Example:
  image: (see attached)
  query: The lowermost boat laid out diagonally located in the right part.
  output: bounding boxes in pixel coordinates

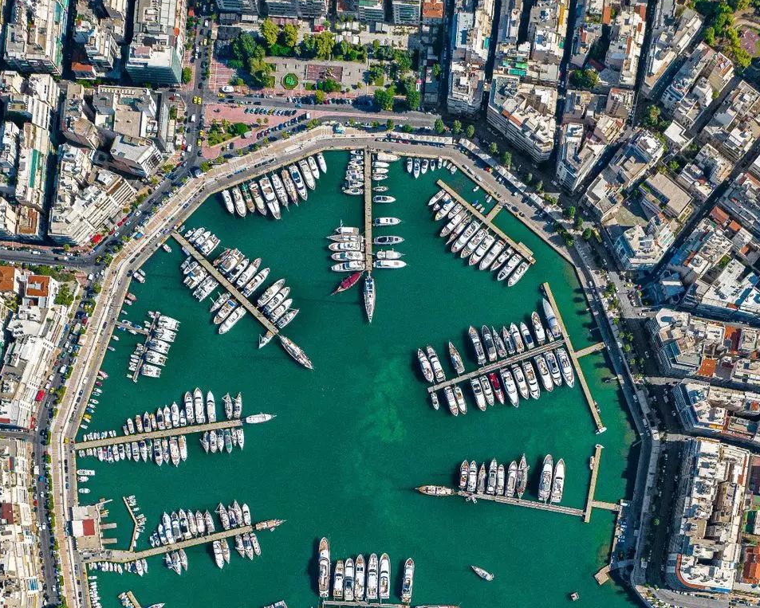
[472,565,494,580]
